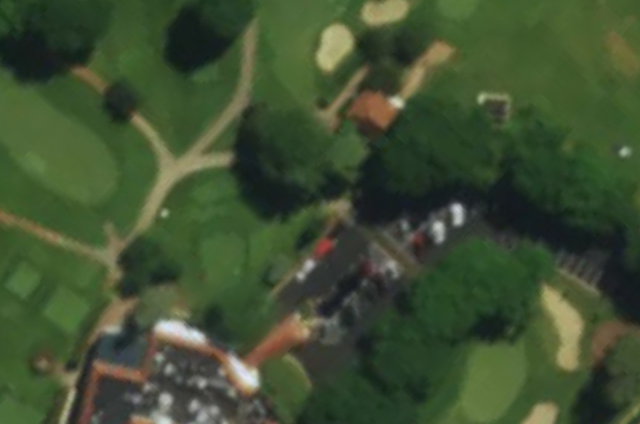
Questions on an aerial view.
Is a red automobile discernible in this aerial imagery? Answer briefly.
Yes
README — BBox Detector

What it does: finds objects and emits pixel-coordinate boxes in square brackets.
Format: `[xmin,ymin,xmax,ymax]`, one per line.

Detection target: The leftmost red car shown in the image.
[316,239,333,257]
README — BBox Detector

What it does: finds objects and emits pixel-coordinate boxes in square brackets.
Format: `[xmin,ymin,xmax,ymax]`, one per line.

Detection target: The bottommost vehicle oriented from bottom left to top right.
[297,261,313,279]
